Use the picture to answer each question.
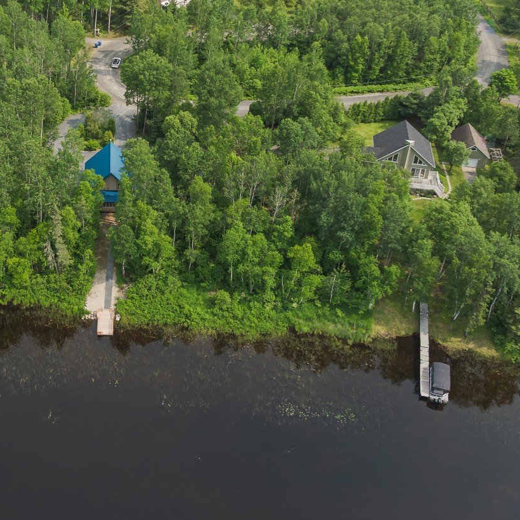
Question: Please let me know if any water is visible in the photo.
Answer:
Yes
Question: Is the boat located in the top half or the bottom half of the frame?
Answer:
bottom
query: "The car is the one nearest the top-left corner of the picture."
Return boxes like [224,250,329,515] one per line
[109,56,122,69]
